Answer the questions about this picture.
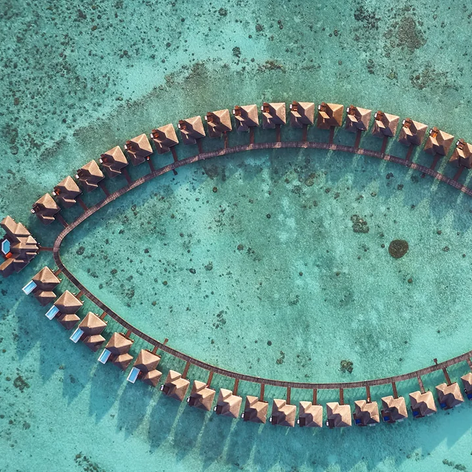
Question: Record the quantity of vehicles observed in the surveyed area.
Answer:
zero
